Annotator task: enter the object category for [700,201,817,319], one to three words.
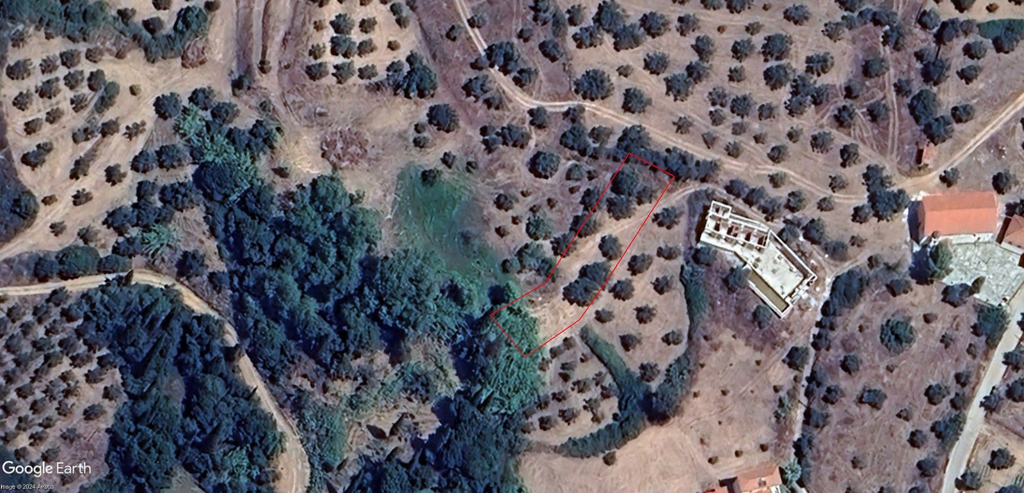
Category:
building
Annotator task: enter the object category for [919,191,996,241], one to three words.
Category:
house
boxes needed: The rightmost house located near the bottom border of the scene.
[734,464,783,493]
